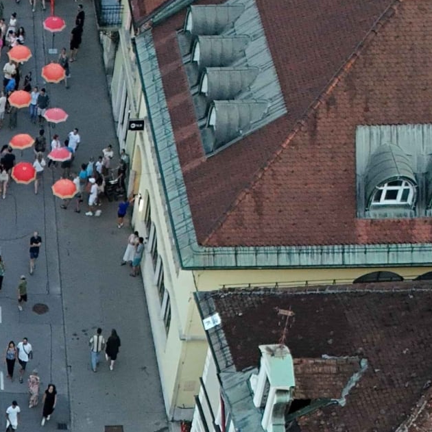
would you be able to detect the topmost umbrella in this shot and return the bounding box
[43,16,65,36]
